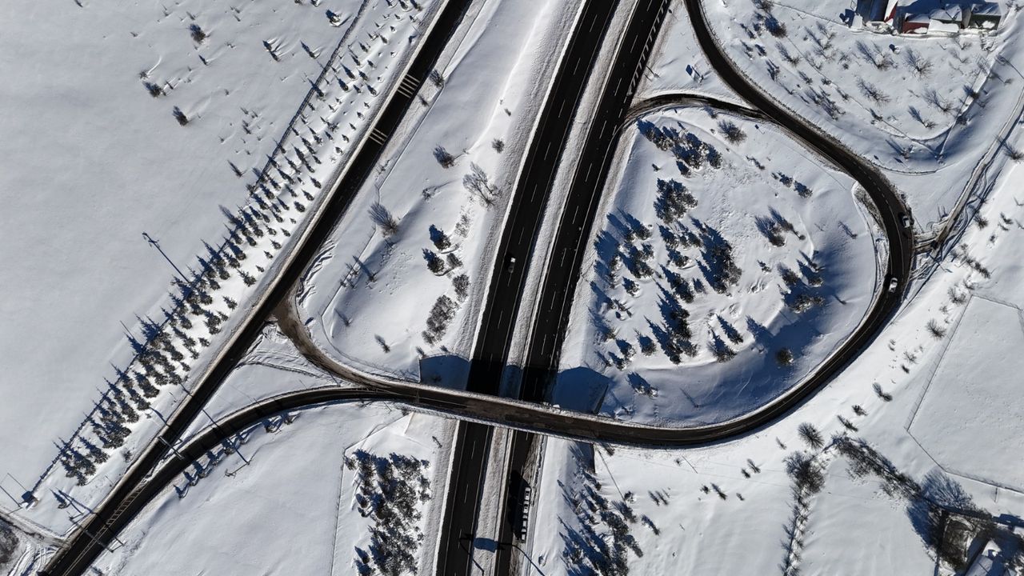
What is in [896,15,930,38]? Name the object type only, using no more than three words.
shed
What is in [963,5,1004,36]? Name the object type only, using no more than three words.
barn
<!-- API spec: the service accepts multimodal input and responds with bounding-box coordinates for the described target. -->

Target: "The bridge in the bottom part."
[395,357,609,475]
